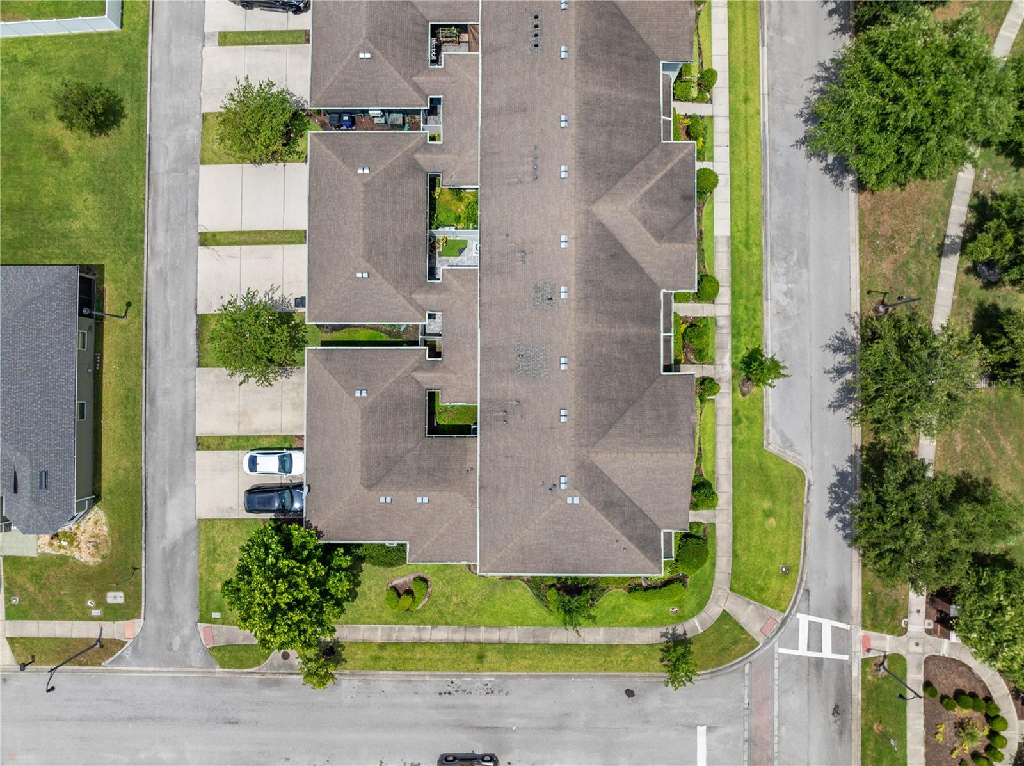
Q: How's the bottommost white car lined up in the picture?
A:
horizontally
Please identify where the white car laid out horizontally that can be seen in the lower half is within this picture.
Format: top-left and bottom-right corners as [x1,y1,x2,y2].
[242,447,306,478]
